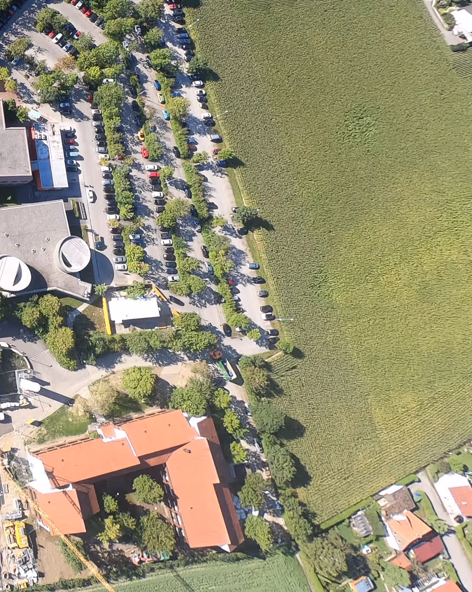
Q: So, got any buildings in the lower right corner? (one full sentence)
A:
Yes, a building appears in the lower right corner.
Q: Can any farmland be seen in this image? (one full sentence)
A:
Yes, there's farmland in this view.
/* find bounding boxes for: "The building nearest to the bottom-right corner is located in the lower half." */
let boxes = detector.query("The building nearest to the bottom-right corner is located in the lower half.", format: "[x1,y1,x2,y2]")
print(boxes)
[414,558,461,592]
